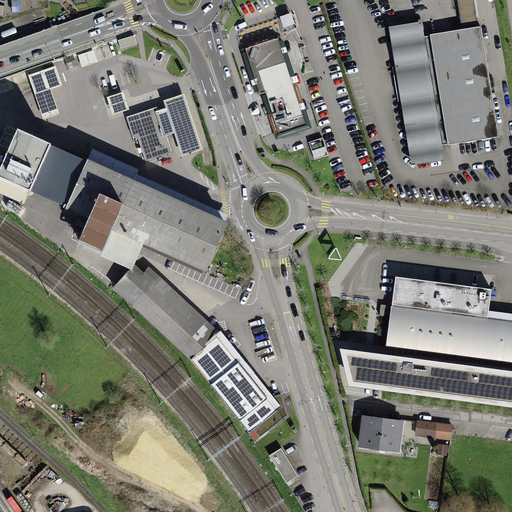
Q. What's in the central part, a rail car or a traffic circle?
traffic circle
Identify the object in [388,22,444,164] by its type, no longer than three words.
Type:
building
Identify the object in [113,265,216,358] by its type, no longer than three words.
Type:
shed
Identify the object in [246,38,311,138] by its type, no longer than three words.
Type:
building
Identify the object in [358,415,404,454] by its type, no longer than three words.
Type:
house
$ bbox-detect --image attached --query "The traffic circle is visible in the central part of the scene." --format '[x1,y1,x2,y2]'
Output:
[234,172,308,246]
